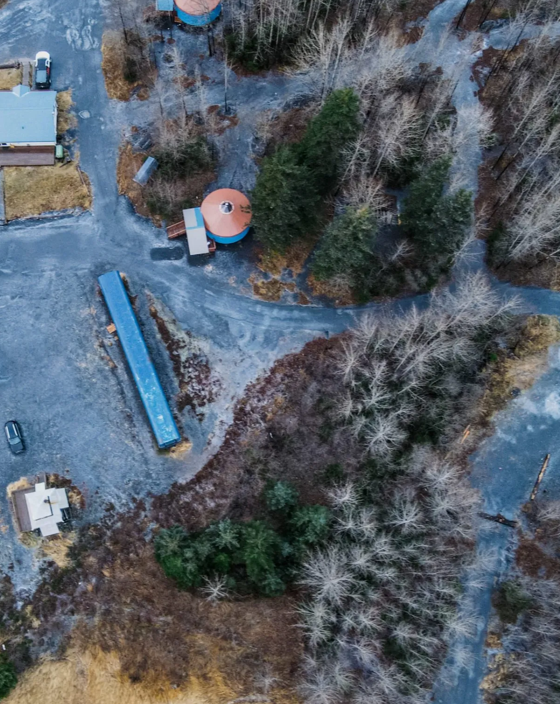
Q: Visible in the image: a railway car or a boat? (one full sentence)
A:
There is a railway car in the scene.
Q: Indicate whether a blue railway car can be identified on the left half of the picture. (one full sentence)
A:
Yes, I can see a blue railway car on the left half of the picture.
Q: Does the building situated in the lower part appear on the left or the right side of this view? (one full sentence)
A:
It is on the left.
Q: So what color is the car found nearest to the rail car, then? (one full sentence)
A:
The car found nearest to the rail car is blue.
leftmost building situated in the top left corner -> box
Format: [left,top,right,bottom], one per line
[0,83,61,152]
